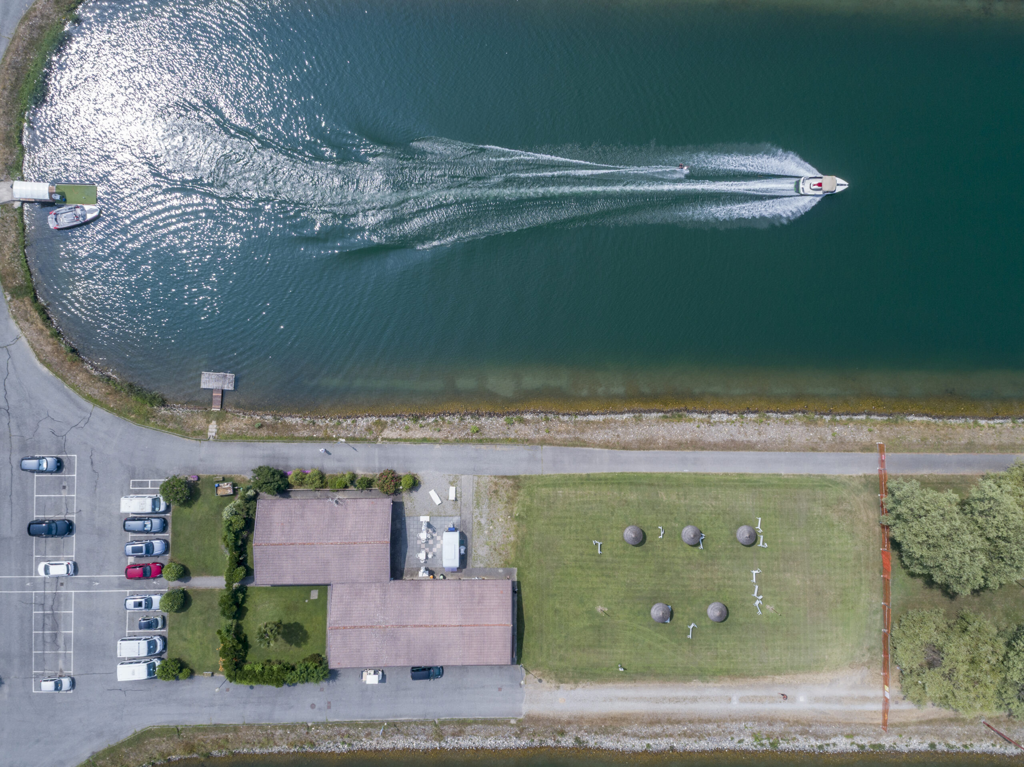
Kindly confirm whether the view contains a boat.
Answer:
Yes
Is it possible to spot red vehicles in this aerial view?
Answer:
Yes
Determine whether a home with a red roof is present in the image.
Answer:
No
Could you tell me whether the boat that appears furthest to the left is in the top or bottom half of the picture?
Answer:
top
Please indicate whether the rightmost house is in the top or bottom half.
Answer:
bottom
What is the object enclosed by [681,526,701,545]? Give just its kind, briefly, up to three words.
umbrella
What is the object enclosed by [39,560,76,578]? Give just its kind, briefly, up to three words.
car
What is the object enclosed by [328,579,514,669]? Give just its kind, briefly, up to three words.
house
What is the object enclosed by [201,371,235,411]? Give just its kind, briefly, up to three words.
pier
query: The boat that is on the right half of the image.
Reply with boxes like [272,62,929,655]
[793,175,849,194]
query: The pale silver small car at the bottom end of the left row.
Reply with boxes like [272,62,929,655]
[40,675,75,693]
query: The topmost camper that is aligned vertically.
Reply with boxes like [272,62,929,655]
[442,517,460,579]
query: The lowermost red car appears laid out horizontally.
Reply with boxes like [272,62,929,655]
[125,562,163,580]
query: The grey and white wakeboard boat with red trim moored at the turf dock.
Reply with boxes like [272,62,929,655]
[47,204,100,229]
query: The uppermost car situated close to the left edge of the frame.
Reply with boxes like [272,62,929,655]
[20,456,63,475]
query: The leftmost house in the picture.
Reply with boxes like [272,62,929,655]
[251,497,392,586]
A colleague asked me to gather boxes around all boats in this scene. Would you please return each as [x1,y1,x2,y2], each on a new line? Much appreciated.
[793,175,849,194]
[47,204,100,229]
